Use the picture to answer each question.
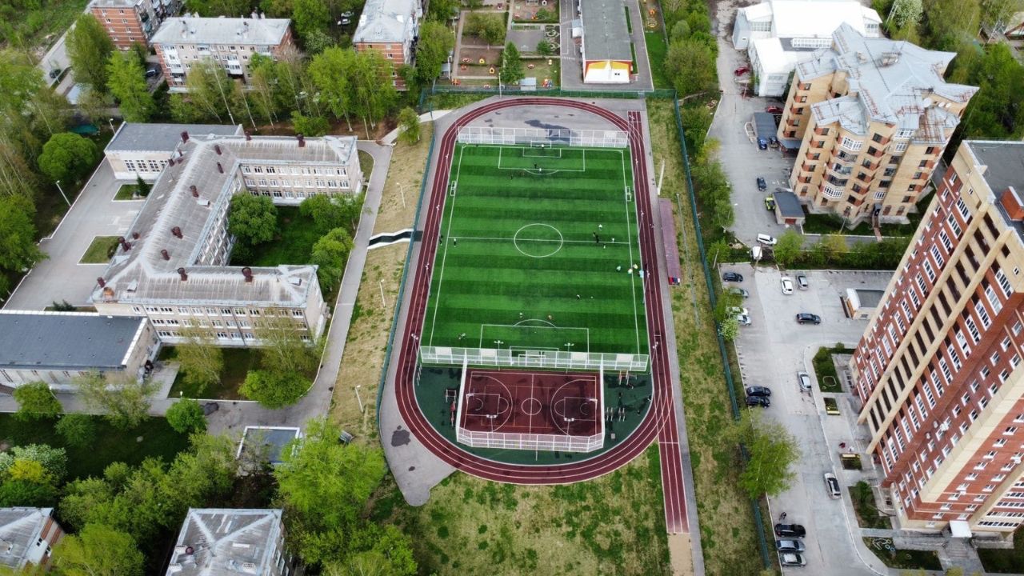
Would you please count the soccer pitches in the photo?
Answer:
1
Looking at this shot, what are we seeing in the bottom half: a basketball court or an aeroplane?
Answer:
basketball court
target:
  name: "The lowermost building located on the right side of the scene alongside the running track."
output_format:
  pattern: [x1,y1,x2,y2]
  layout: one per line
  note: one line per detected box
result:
[842,136,1024,570]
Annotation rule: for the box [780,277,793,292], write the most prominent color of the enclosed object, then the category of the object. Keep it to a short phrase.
white vehicle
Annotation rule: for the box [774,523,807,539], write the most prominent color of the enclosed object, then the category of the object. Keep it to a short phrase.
black car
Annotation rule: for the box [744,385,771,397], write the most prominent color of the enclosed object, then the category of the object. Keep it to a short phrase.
black vehicle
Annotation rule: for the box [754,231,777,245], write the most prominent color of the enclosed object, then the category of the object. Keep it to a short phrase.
white car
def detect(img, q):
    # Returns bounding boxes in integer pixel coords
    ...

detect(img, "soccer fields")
[418,142,650,371]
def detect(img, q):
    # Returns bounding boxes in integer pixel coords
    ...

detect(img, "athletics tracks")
[398,99,669,483]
